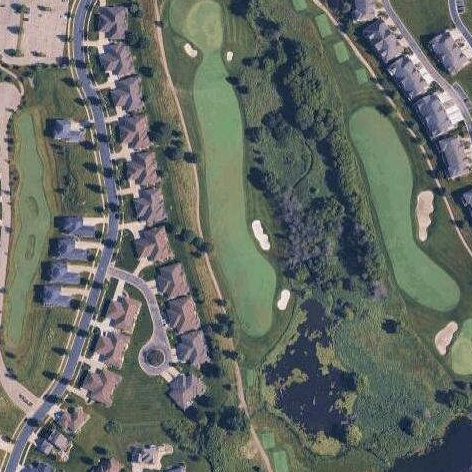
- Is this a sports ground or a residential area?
residential area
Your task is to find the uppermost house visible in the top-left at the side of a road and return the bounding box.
[98,6,129,39]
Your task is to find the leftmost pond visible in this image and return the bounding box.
[263,299,358,442]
